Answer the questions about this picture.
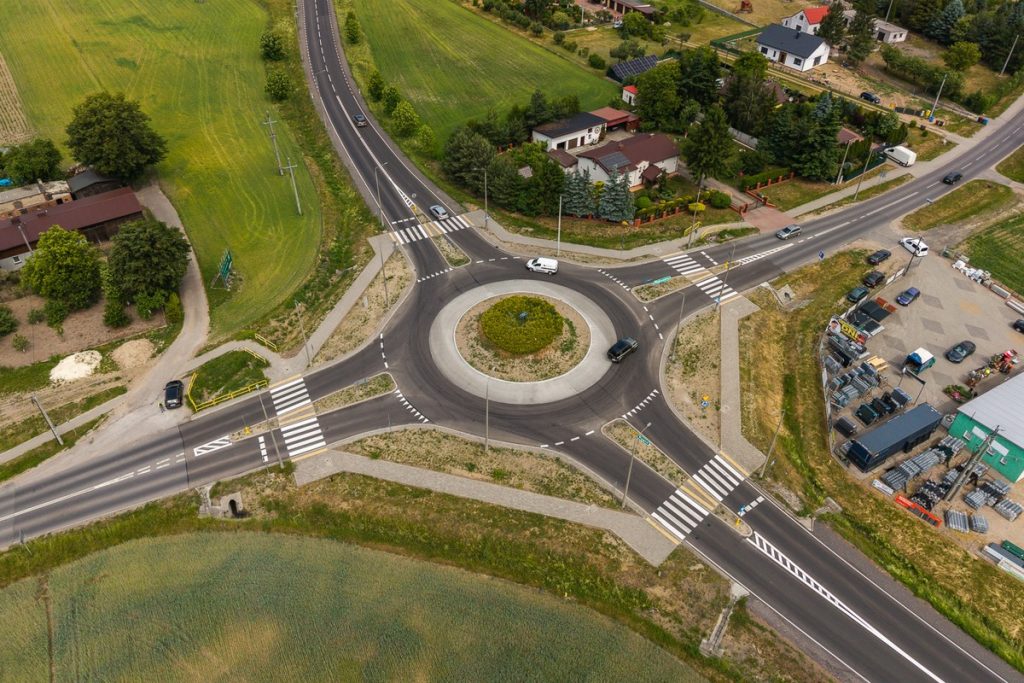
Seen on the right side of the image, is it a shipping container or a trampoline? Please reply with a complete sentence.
The feature located on the right side of the image is a shipping container.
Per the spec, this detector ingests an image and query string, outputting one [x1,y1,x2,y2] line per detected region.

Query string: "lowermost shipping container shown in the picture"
[845,405,943,472]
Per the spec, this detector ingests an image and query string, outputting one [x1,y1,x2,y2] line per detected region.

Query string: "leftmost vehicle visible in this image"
[160,374,182,406]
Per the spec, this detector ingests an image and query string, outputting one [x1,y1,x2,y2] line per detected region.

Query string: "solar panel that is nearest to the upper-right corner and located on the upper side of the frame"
[606,46,663,80]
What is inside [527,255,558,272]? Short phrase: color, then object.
white vehicle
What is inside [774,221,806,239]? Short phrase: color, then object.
gray car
